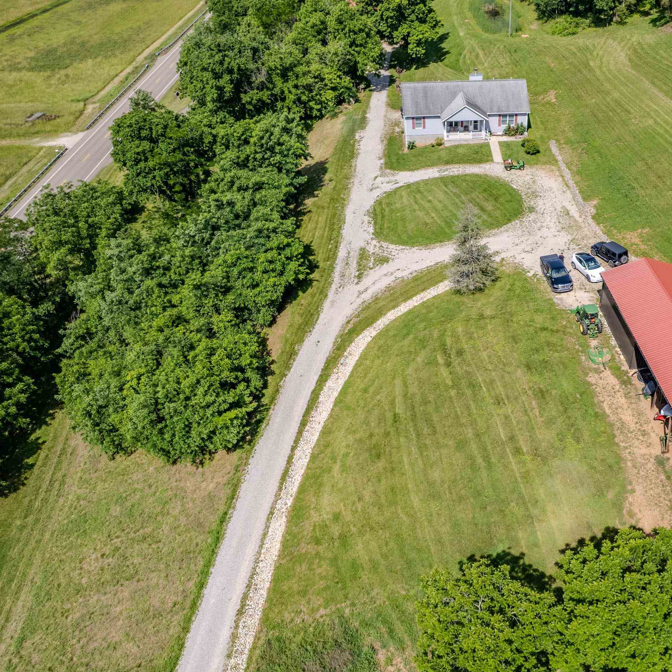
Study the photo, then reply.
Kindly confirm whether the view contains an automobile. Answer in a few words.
Yes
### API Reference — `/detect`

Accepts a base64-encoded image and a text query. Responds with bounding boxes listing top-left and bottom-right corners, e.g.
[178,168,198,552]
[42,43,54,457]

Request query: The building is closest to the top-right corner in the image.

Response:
[402,64,529,148]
